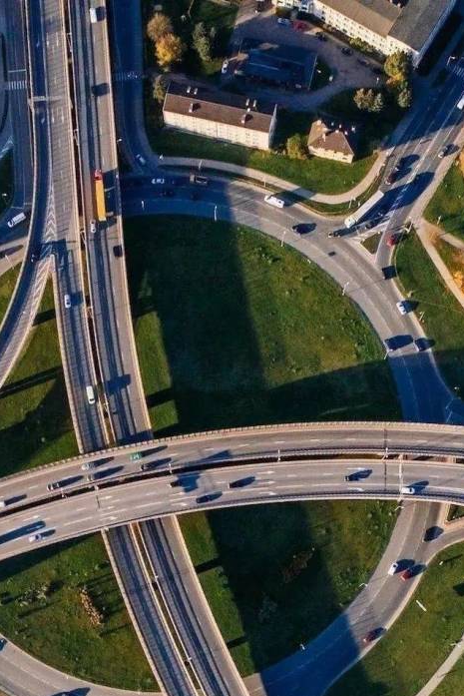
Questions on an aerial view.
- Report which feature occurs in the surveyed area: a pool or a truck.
truck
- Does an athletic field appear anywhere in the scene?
No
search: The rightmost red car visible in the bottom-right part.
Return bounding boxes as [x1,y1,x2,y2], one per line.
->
[398,567,411,582]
